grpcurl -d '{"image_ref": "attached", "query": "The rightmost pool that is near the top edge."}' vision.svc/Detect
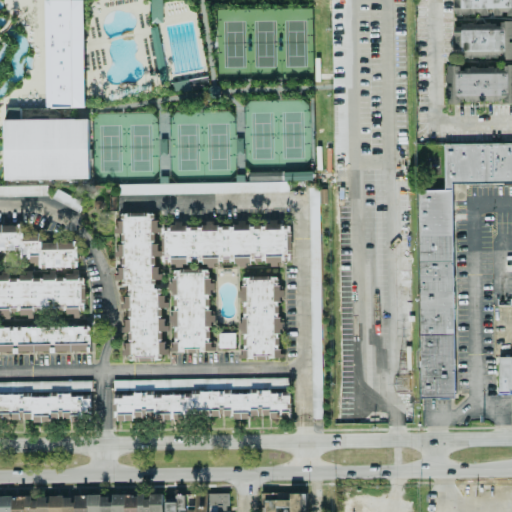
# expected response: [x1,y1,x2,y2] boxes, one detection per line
[167,22,204,74]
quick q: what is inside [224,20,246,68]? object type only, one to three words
tennis court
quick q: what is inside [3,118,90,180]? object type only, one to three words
building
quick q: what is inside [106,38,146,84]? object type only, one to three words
swimming pool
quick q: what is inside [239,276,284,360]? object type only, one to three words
building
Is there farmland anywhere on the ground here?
No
